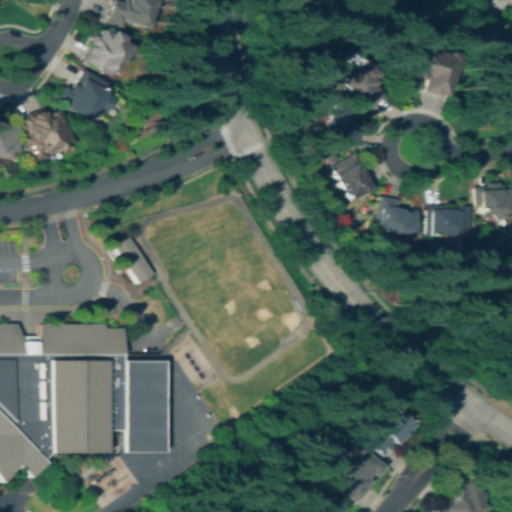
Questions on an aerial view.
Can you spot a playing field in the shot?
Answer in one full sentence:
Yes, a playing field can be made out from above.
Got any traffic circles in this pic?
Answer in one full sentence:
Yes, the frame does contain a traffic circle.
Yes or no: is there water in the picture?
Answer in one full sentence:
No, there's no water in this view.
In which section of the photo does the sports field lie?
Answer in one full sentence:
The sports field appears toward the center of the photo.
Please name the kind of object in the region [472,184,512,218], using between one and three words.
house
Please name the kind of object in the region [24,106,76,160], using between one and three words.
house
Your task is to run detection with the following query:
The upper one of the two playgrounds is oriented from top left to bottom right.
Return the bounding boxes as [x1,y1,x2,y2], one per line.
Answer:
[174,334,218,388]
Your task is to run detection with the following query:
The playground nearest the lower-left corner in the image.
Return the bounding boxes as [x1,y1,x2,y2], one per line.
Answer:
[84,457,139,508]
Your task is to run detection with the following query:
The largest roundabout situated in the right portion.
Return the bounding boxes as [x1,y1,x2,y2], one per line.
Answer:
[388,115,454,184]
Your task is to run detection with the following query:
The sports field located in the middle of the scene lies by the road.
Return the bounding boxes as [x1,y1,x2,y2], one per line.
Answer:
[144,202,300,376]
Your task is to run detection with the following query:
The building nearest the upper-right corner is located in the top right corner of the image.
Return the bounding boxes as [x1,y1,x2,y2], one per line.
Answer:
[428,50,464,95]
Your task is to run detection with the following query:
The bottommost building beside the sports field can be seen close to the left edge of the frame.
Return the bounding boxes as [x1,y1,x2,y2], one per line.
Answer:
[0,324,170,484]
